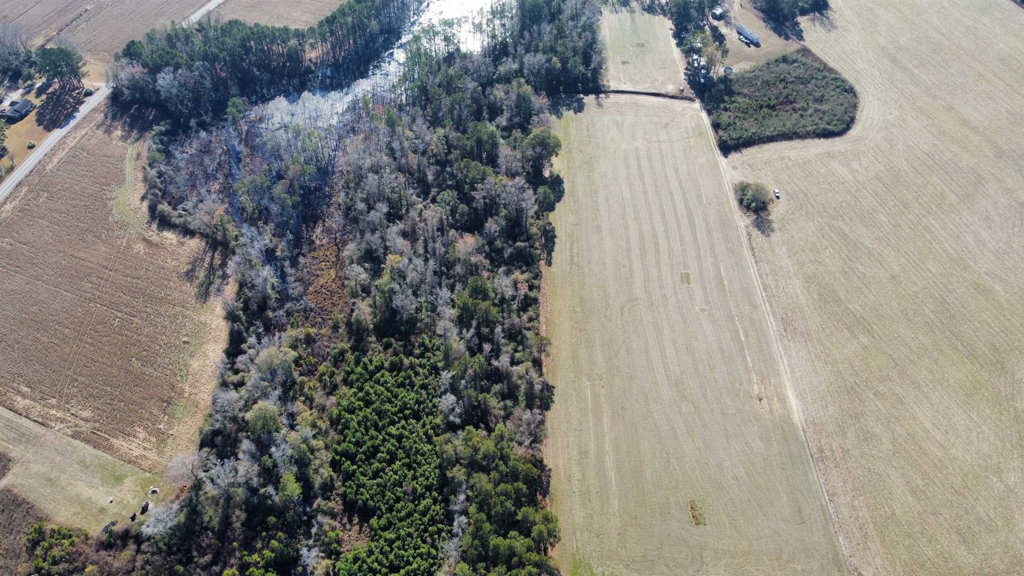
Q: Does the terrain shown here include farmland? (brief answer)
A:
Yes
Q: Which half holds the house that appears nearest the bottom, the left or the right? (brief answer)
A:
left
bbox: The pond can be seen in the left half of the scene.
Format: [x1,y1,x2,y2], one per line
[251,0,511,142]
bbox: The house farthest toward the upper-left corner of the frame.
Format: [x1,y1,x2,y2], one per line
[3,98,35,120]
